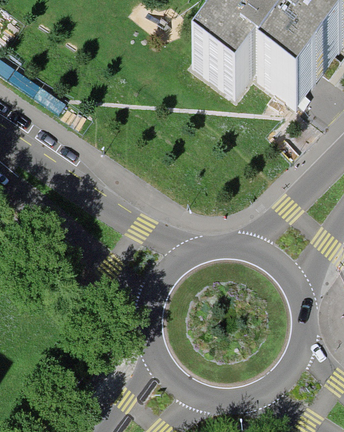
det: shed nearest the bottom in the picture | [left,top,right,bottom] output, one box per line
[35,88,66,116]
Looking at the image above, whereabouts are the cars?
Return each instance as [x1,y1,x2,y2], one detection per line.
[35,128,58,148]
[298,298,312,322]
[8,110,32,130]
[310,342,328,364]
[57,144,80,164]
[0,100,10,114]
[0,170,10,186]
